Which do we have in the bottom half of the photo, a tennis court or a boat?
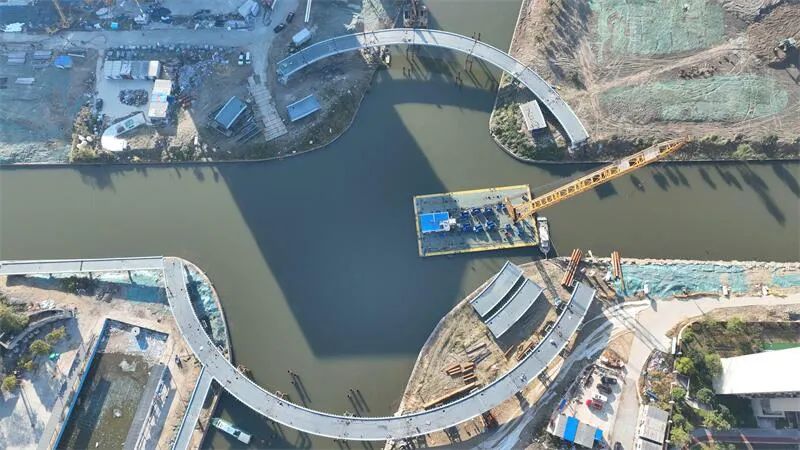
boat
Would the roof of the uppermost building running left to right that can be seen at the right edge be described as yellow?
No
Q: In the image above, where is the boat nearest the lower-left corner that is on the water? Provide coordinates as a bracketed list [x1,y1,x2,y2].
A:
[212,420,253,445]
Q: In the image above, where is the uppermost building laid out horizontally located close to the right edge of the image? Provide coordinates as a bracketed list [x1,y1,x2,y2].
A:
[698,343,800,395]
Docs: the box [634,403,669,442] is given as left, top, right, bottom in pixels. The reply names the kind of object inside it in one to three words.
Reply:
shed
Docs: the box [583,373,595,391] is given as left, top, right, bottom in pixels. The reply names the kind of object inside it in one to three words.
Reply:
vehicle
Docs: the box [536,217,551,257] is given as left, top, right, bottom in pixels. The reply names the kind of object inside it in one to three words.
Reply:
boat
